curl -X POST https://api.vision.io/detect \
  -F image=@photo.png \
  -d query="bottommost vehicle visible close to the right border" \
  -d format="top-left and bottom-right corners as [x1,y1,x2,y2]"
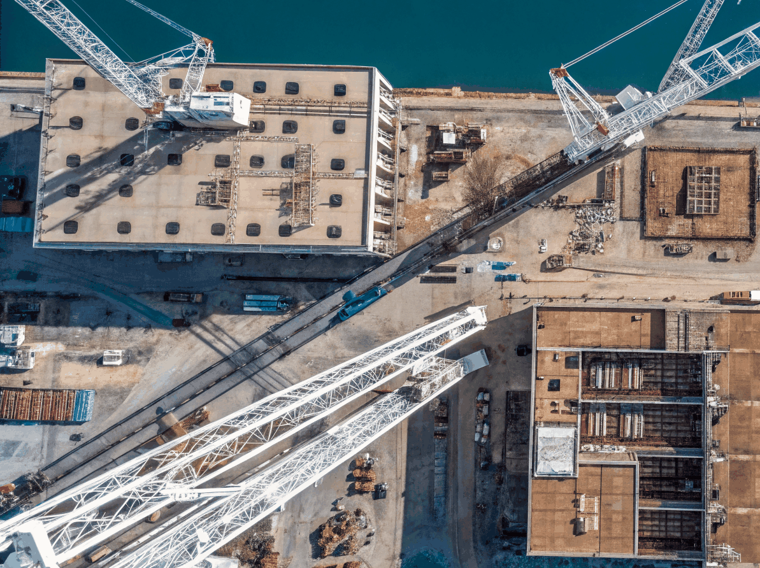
[724,290,760,303]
